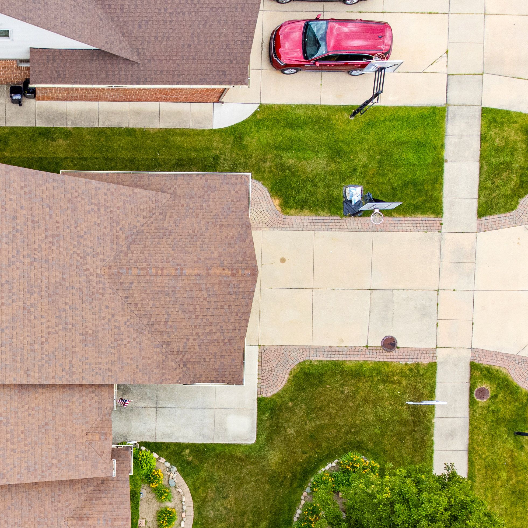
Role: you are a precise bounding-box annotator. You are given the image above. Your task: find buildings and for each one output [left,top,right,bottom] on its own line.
[0,0,261,110]
[0,163,259,528]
